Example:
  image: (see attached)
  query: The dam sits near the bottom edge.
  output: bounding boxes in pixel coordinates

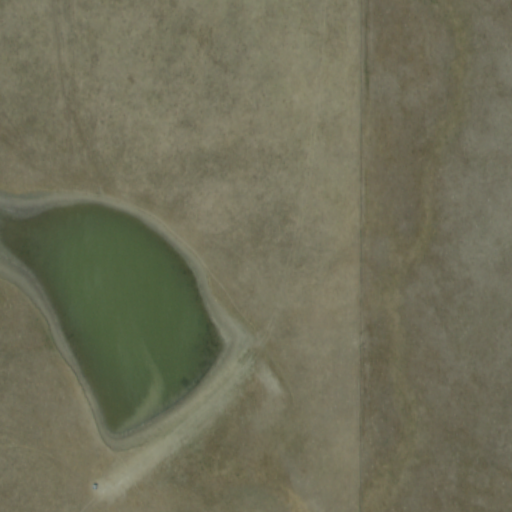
[108,334,265,503]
